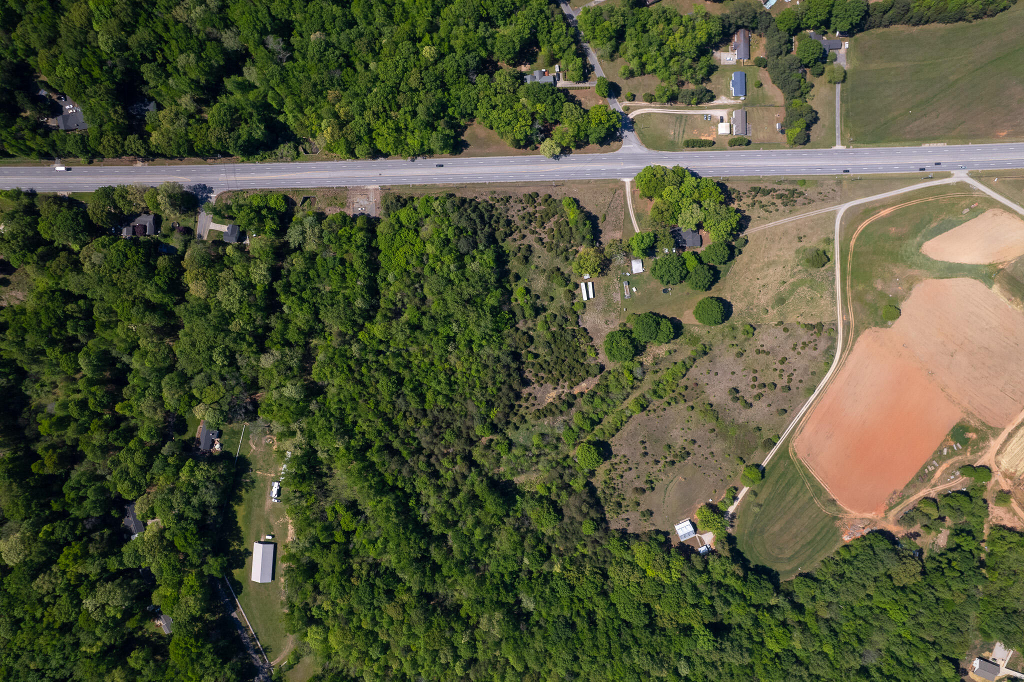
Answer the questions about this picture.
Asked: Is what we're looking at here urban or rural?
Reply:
rural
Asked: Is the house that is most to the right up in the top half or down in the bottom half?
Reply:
bottom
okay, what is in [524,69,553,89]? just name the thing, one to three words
house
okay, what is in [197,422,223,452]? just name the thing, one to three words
house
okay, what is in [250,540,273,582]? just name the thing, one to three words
barn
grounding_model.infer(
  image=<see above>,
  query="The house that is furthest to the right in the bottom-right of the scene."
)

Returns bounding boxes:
[970,658,997,681]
